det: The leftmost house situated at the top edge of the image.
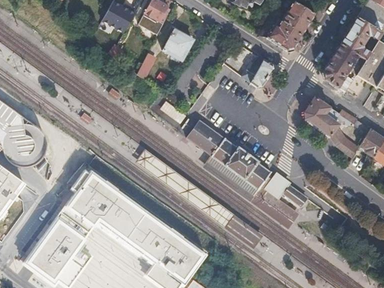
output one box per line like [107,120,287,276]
[102,0,136,34]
